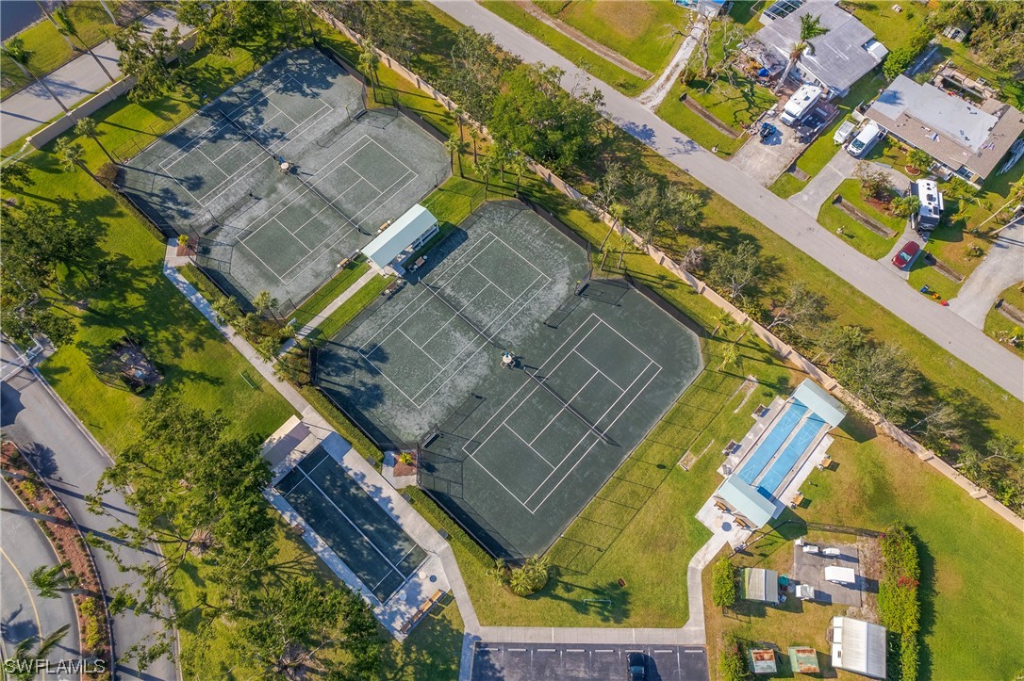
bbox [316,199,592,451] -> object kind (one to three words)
tennis court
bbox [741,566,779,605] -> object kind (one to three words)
shed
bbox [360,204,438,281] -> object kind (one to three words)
building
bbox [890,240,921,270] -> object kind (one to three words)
car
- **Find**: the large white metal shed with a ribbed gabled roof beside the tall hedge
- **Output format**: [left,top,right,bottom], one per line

[832,617,887,679]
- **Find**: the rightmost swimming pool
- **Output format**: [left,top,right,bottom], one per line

[934,55,1004,107]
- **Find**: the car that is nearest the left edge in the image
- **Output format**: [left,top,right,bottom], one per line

[628,653,650,681]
